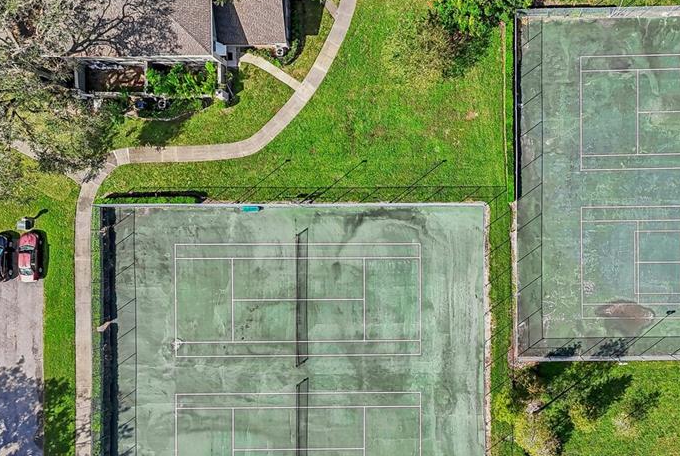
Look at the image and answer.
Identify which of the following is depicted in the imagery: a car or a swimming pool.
car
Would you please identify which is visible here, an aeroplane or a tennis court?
tennis court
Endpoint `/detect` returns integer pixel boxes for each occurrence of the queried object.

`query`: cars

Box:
[16,232,43,284]
[0,233,15,283]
